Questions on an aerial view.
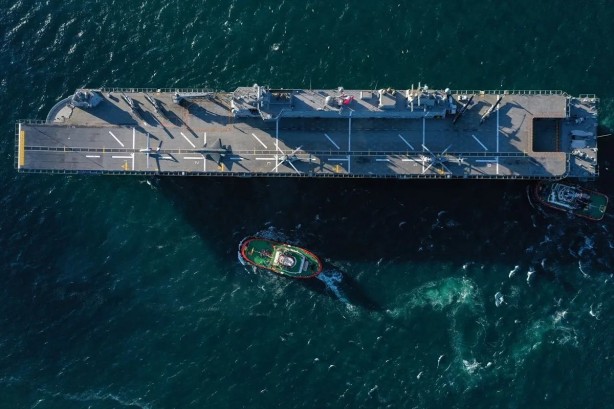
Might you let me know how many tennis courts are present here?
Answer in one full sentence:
No tennis courts are visible.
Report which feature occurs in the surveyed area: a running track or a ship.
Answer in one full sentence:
I can see a ship in this picture.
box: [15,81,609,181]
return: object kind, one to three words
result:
ship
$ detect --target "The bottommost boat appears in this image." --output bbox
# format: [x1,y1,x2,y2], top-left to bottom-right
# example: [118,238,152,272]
[239,236,322,277]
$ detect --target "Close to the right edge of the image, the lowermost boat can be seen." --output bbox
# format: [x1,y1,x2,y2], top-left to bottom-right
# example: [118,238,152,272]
[532,181,608,226]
